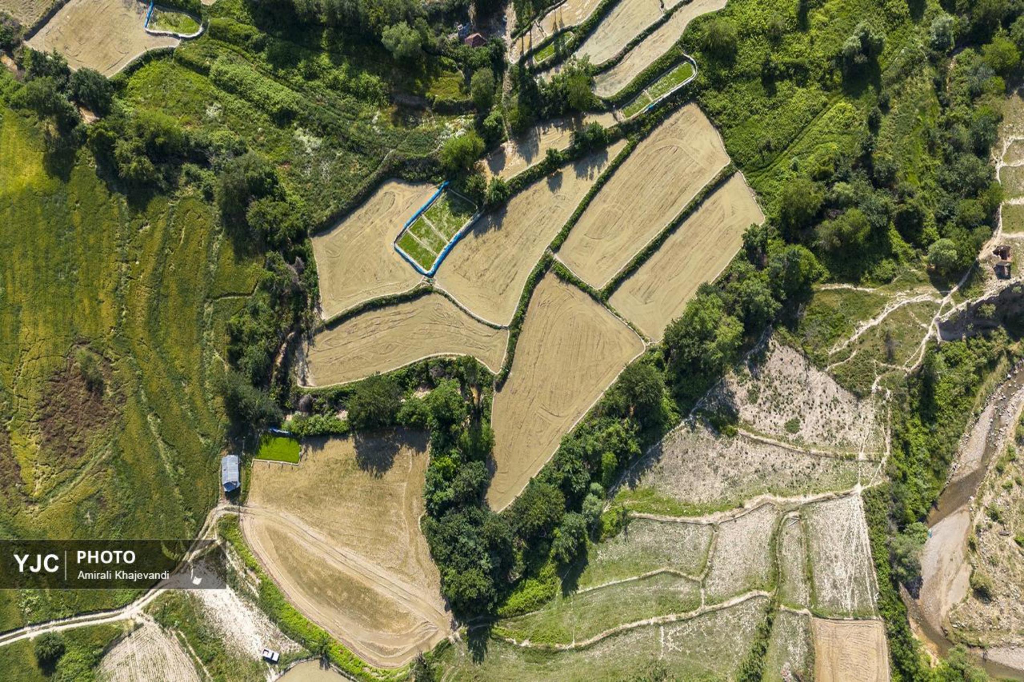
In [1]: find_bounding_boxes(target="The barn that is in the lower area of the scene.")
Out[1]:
[221,457,242,496]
